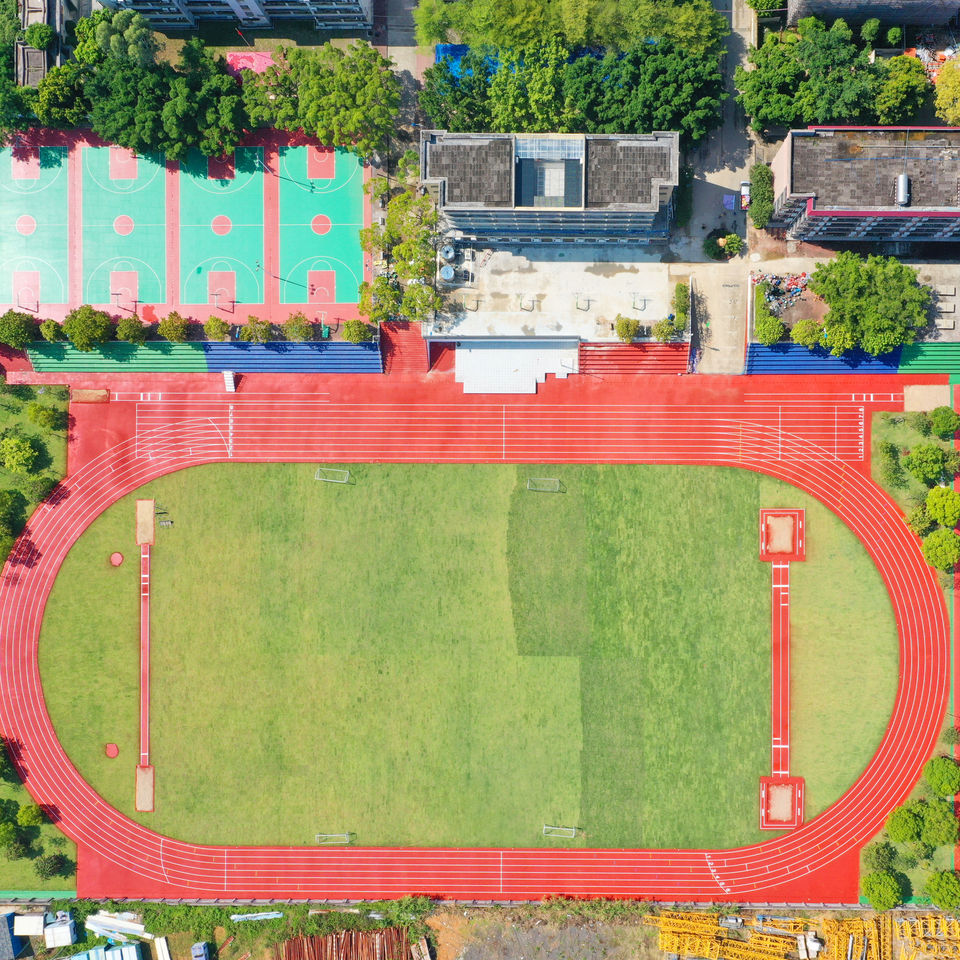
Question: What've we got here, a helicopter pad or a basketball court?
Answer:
basketball court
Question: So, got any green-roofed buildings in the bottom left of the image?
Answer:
No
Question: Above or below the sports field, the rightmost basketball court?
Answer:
above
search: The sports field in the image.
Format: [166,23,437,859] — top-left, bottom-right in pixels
[39,462,899,848]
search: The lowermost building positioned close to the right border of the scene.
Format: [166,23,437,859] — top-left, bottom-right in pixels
[761,125,960,243]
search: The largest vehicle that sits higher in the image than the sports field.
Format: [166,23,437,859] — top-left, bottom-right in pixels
[740,179,753,208]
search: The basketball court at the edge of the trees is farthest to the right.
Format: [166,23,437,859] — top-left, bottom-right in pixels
[279,146,364,304]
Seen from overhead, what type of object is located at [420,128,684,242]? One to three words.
building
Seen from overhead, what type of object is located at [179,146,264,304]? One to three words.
basketball court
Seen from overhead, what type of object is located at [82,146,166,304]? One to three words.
basketball court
